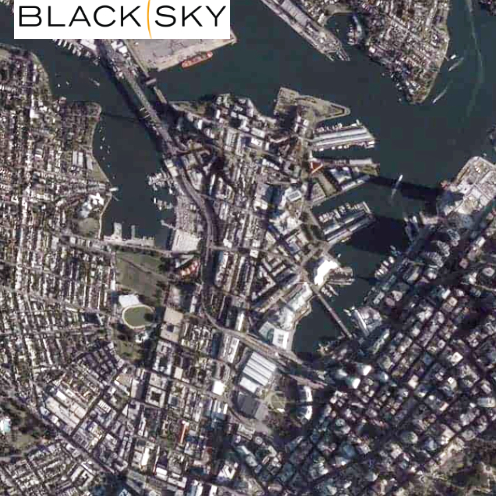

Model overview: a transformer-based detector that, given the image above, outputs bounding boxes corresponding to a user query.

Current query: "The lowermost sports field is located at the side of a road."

[118,293,155,330]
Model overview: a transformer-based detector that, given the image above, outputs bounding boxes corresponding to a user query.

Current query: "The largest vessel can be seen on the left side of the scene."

[182,51,212,66]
